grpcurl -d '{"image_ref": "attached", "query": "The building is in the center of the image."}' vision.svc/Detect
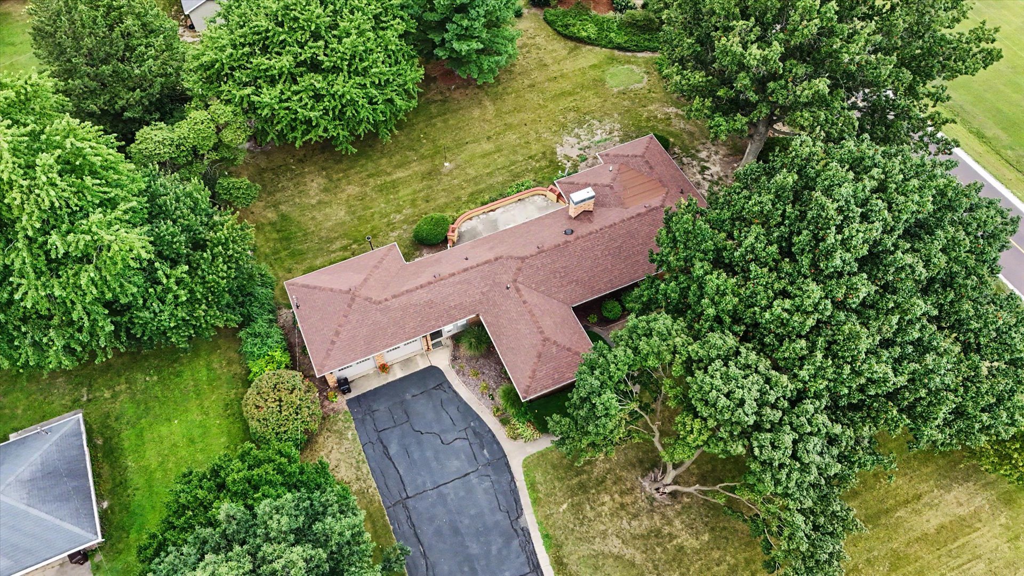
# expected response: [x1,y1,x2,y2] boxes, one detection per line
[284,133,735,405]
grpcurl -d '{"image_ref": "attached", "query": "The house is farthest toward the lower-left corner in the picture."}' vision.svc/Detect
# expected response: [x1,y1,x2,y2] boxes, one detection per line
[0,410,110,576]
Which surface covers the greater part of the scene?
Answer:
trees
